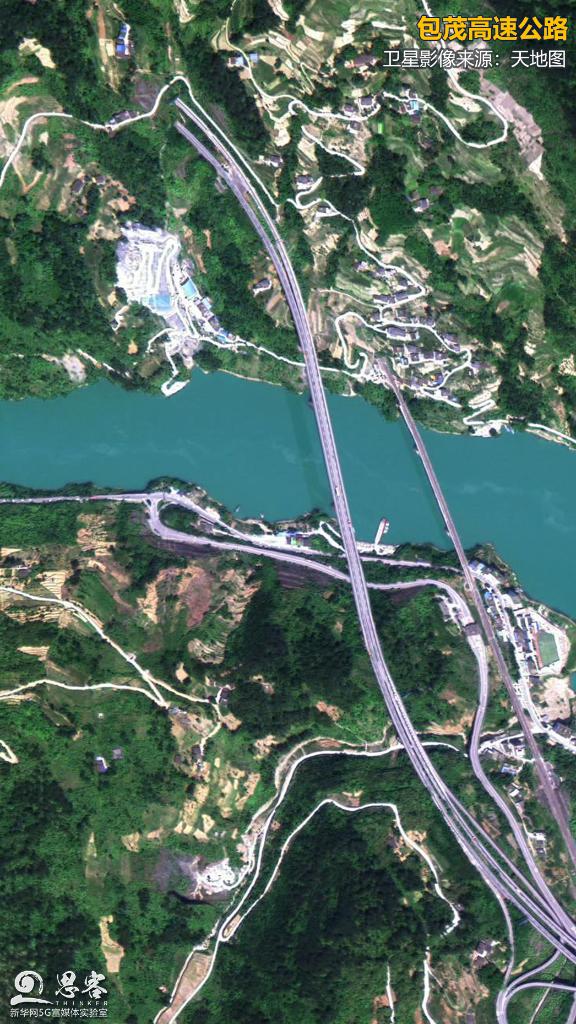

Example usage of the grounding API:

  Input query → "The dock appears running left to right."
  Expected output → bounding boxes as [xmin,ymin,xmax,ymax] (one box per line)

[355,541,404,553]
